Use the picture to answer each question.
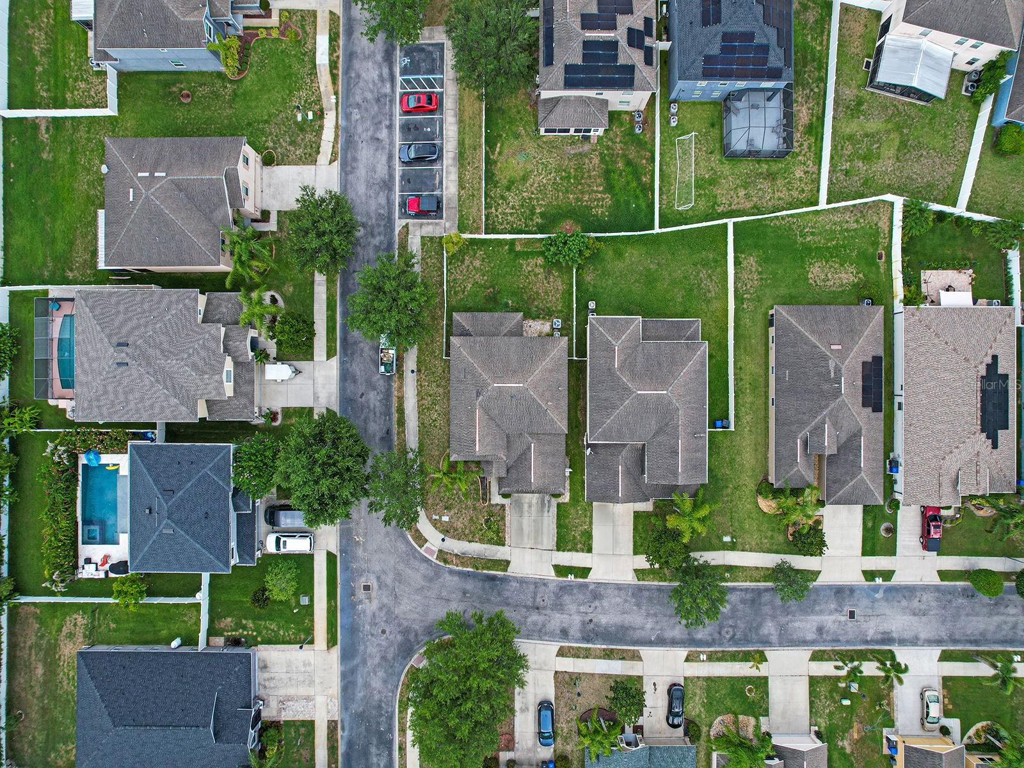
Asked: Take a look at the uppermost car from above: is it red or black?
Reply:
red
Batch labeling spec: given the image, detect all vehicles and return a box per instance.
[536,701,555,743]
[268,534,313,554]
[920,508,945,552]
[401,93,440,114]
[407,195,444,215]
[377,334,397,374]
[399,143,440,164]
[265,507,311,528]
[666,683,686,725]
[920,686,943,729]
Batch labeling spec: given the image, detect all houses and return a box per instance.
[449,312,568,495]
[894,306,1017,509]
[538,0,656,143]
[894,736,1020,768]
[75,289,261,422]
[669,0,794,99]
[93,0,263,69]
[878,0,1024,66]
[769,305,885,505]
[128,442,261,573]
[585,315,709,506]
[76,646,269,768]
[105,136,262,271]
[584,728,697,768]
